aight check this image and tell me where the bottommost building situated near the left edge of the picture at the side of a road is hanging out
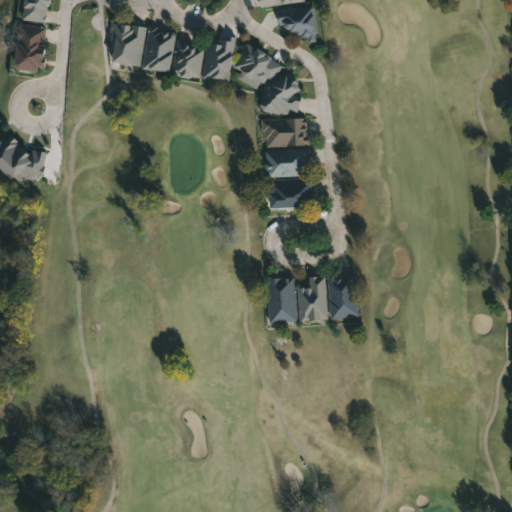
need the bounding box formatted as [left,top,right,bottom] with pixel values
[0,136,49,180]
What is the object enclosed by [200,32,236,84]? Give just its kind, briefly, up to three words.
house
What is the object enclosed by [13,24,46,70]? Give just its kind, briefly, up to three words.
house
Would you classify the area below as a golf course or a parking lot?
golf course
